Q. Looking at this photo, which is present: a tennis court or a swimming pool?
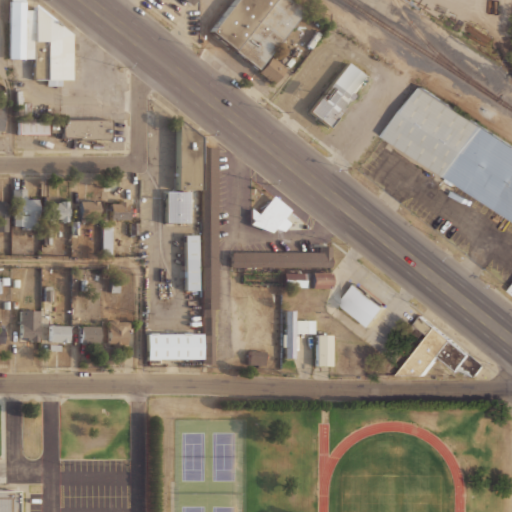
tennis court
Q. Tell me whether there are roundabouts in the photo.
No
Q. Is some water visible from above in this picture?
No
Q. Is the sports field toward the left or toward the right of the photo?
right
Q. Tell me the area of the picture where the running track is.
bottom right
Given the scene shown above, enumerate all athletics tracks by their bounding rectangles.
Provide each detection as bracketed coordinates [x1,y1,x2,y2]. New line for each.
[318,420,466,512]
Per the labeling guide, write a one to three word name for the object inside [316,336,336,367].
house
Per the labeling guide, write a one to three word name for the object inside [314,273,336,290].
barn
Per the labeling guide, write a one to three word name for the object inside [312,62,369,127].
building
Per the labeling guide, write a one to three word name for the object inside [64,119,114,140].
building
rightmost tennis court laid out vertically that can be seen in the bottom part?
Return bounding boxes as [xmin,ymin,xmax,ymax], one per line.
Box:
[209,420,244,492]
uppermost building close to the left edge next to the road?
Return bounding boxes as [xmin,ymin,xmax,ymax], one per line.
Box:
[10,0,74,86]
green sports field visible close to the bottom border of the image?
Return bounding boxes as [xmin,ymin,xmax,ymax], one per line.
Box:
[330,432,454,512]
